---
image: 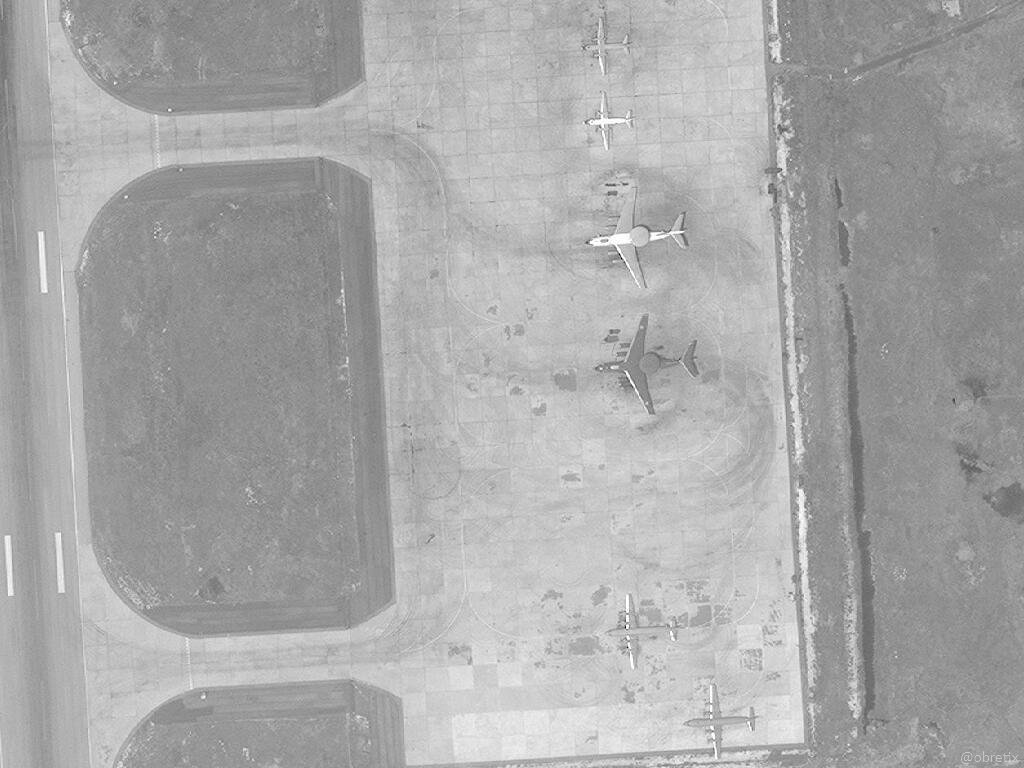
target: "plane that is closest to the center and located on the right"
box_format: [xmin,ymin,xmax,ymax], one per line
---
[595,314,695,414]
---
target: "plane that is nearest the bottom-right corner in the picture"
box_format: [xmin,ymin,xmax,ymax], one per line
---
[684,683,757,759]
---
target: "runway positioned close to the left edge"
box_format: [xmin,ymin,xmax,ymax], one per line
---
[0,0,92,768]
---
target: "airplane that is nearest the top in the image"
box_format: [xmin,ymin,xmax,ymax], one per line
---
[582,18,631,76]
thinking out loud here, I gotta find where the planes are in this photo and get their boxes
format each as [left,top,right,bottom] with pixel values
[684,683,757,759]
[595,314,695,414]
[584,92,633,150]
[582,18,631,76]
[606,593,679,669]
[586,188,687,288]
